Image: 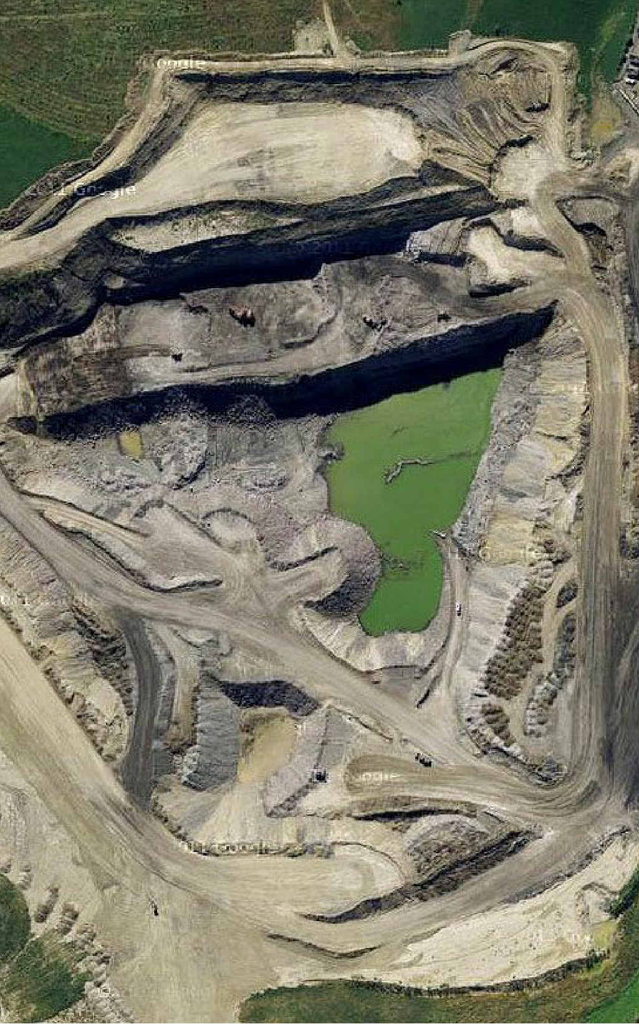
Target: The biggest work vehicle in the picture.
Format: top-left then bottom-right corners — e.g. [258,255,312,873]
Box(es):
[230,305,251,323]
